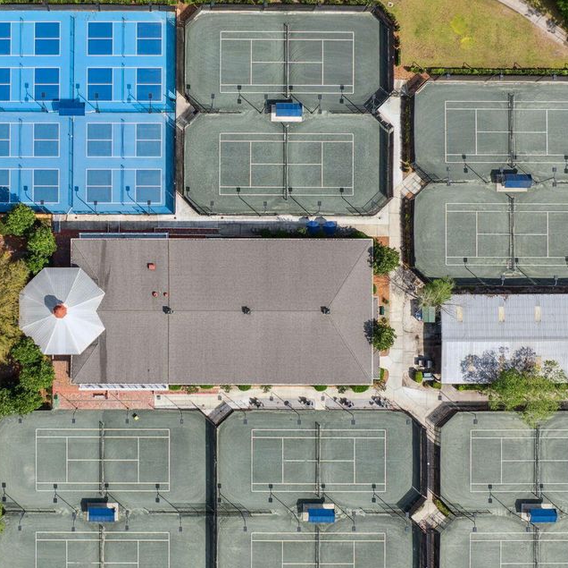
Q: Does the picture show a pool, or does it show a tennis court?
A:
tennis court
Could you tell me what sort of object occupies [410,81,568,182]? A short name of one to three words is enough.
tennis court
